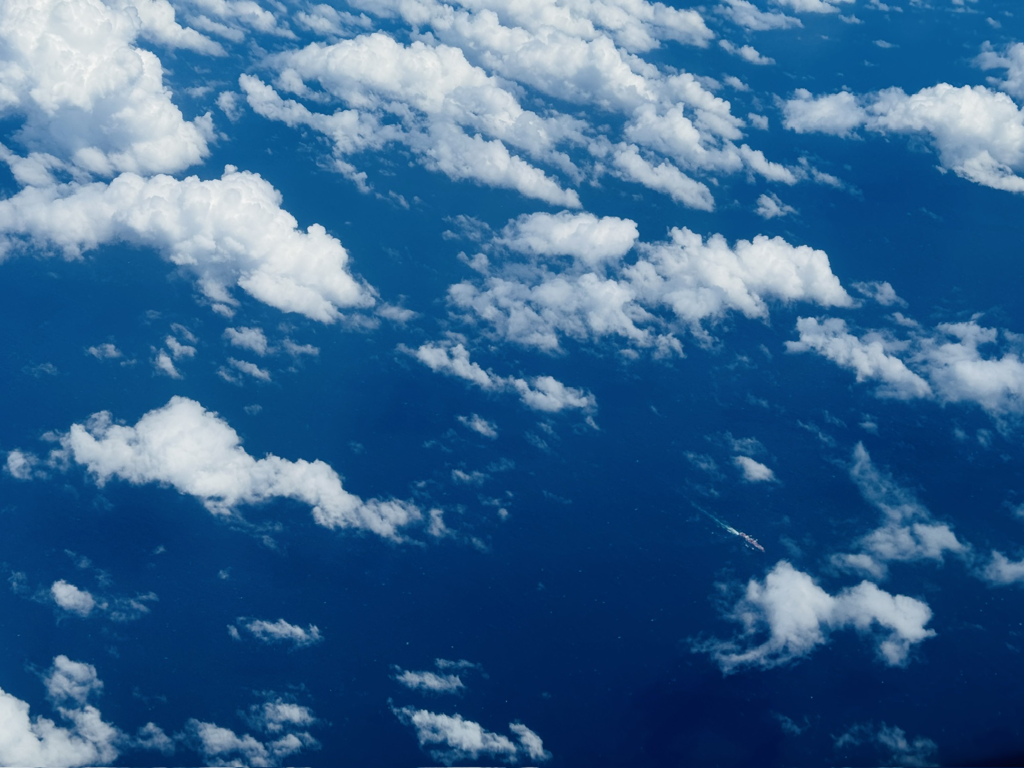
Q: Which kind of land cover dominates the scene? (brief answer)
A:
water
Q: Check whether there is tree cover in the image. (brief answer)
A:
No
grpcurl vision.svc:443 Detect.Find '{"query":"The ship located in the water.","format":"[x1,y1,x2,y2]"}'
[739,532,764,551]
